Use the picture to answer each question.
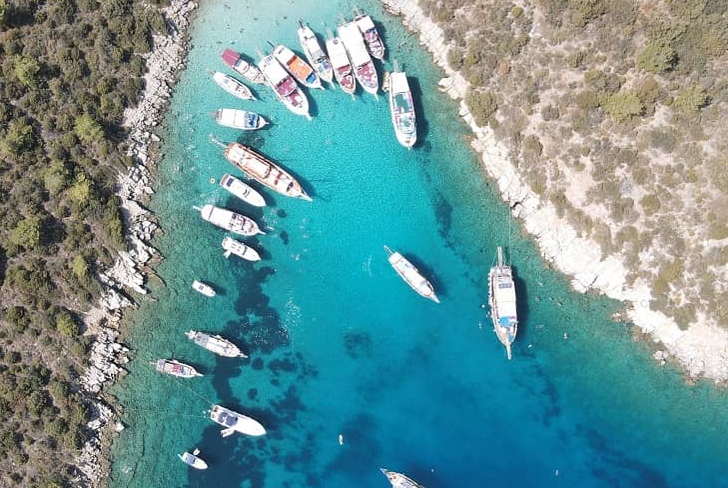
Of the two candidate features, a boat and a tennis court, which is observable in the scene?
boat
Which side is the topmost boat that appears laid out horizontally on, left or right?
left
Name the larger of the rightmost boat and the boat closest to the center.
the rightmost boat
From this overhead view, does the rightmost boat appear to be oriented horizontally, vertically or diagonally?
vertically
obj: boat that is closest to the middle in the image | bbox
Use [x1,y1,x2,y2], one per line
[384,246,440,303]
